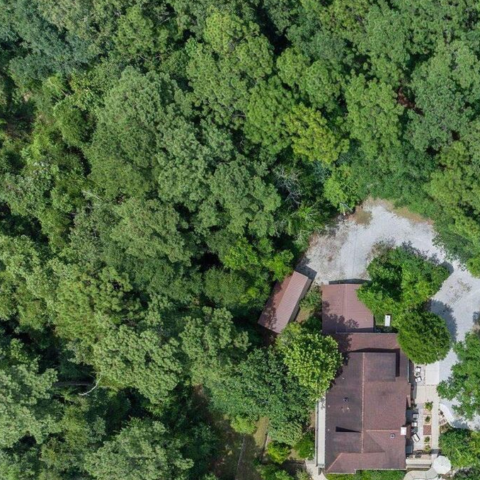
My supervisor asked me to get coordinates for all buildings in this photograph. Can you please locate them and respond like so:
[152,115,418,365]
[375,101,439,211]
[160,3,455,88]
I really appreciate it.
[258,269,309,331]
[315,332,410,473]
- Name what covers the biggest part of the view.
trees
